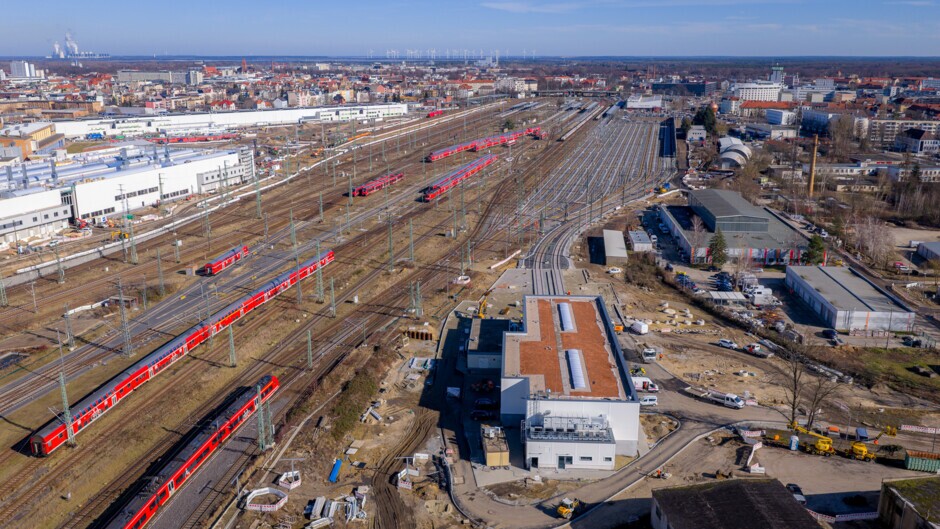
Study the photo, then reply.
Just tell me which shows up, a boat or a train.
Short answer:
train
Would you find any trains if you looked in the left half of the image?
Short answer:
Yes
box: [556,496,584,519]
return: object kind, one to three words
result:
work vehicle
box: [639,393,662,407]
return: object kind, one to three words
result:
vehicle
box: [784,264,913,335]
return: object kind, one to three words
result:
building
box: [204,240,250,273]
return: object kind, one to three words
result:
train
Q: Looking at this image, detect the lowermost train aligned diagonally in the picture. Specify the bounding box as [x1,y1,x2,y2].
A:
[85,373,285,529]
